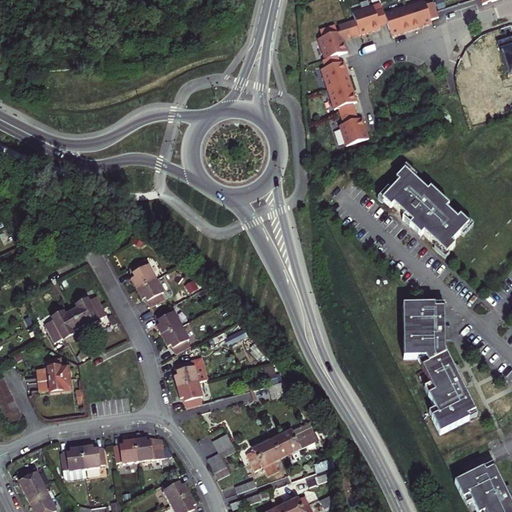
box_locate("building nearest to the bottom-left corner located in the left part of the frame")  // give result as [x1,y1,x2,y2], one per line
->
[17,471,60,512]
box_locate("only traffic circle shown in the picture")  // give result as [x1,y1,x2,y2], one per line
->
[181,100,288,206]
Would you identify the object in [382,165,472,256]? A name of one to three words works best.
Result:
building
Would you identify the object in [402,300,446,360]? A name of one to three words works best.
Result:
building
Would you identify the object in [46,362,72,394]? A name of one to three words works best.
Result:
house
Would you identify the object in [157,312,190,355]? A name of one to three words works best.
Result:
house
